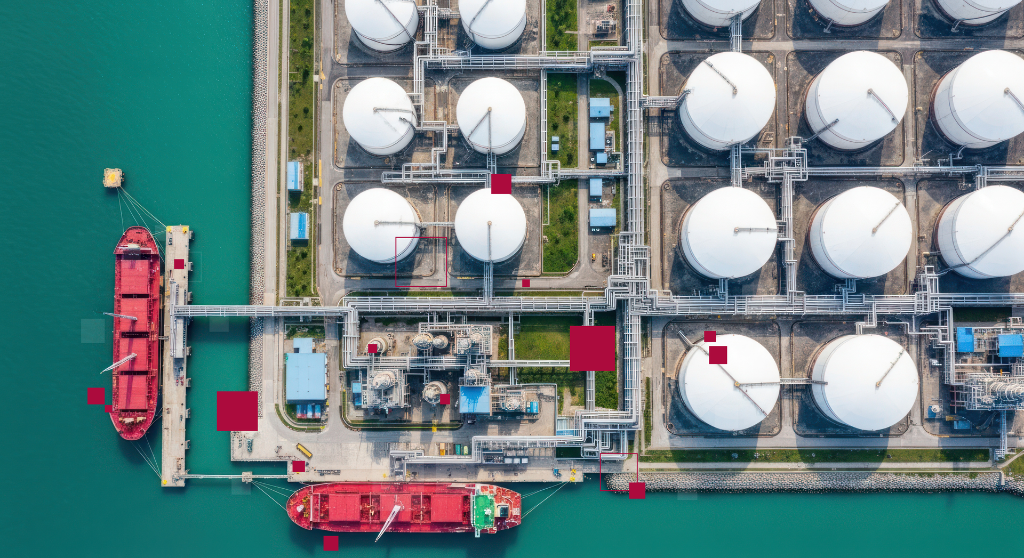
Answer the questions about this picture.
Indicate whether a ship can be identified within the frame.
Yes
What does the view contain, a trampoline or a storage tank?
storage tank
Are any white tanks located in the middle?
Yes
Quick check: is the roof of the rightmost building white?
No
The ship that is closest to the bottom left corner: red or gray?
red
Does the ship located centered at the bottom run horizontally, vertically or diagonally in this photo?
horizontally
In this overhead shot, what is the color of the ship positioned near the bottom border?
red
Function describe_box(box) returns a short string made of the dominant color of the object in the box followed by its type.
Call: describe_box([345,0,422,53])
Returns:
white storage tank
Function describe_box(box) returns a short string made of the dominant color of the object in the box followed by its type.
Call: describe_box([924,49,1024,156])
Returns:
white storage tank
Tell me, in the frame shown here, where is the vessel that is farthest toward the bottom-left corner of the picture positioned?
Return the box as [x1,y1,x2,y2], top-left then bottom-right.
[101,226,166,441]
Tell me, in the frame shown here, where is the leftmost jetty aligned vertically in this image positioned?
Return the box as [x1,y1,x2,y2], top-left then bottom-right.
[161,225,191,486]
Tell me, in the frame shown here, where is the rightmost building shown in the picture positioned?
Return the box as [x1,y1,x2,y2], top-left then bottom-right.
[992,335,1023,357]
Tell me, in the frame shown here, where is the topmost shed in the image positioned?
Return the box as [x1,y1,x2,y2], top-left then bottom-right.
[590,98,609,118]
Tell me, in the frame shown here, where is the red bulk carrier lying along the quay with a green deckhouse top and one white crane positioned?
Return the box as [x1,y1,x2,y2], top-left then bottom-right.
[286,481,521,542]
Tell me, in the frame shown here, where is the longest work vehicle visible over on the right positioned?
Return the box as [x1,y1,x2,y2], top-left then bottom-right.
[946,413,996,429]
